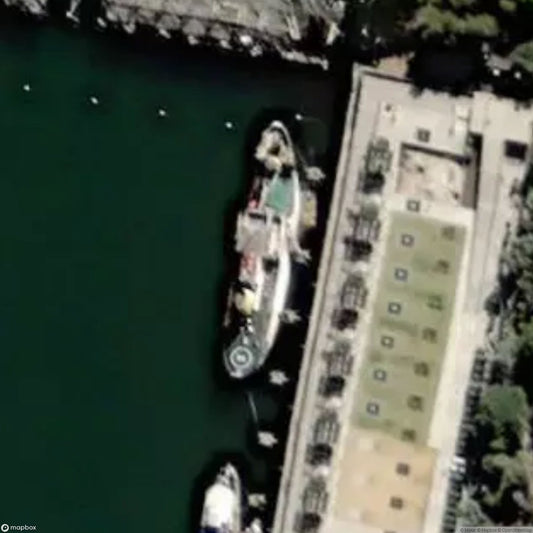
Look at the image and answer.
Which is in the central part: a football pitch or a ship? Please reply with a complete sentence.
It is a ship that can be seen in the central part.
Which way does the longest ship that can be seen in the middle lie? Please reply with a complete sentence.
I'd say the longest ship that can be seen in the middle is aligned vertically in the picture.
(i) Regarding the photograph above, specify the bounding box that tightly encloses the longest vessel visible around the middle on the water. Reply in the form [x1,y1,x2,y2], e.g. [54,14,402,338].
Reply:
[223,120,303,379]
